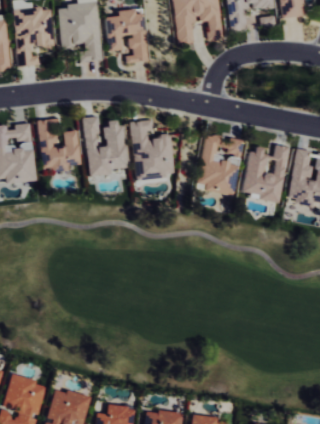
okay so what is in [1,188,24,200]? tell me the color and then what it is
blue swimming pool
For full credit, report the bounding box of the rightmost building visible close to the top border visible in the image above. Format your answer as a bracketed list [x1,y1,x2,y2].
[280,0,317,18]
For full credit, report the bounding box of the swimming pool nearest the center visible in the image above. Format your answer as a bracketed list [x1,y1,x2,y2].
[144,184,169,198]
